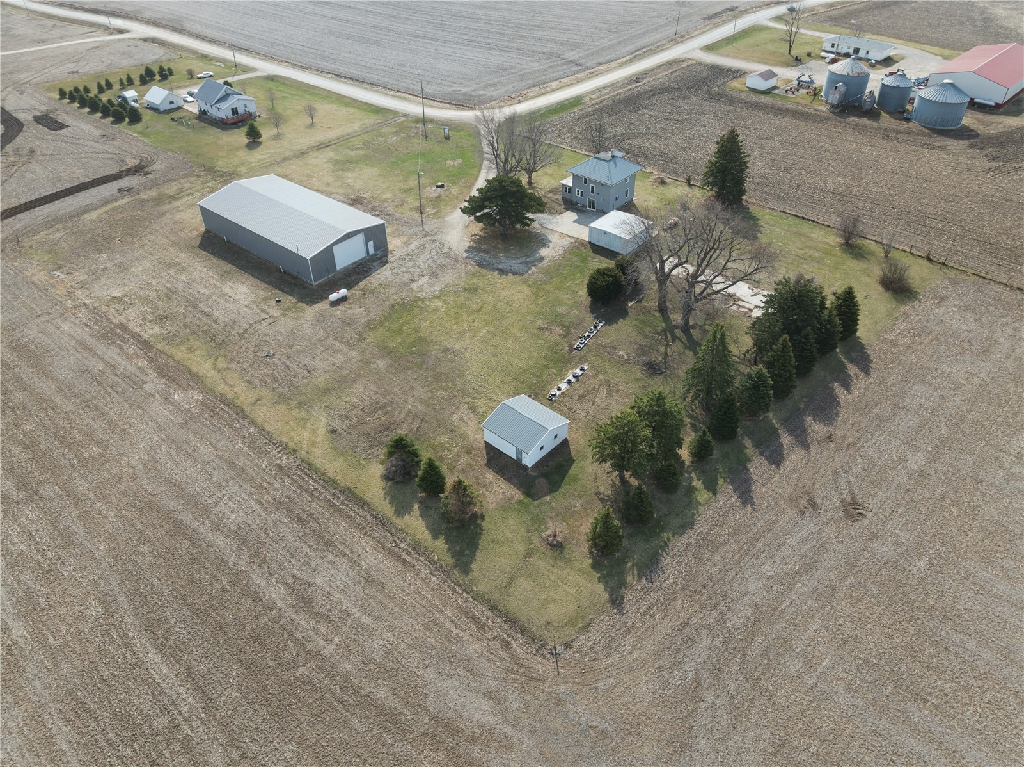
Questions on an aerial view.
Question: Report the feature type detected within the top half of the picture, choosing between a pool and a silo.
silo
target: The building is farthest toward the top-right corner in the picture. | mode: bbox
[925,42,1024,109]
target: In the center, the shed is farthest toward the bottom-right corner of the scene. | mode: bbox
[480,395,571,468]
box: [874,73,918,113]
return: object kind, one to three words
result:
silo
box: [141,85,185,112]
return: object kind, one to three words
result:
building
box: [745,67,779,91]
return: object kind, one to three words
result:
shed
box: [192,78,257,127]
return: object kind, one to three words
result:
house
